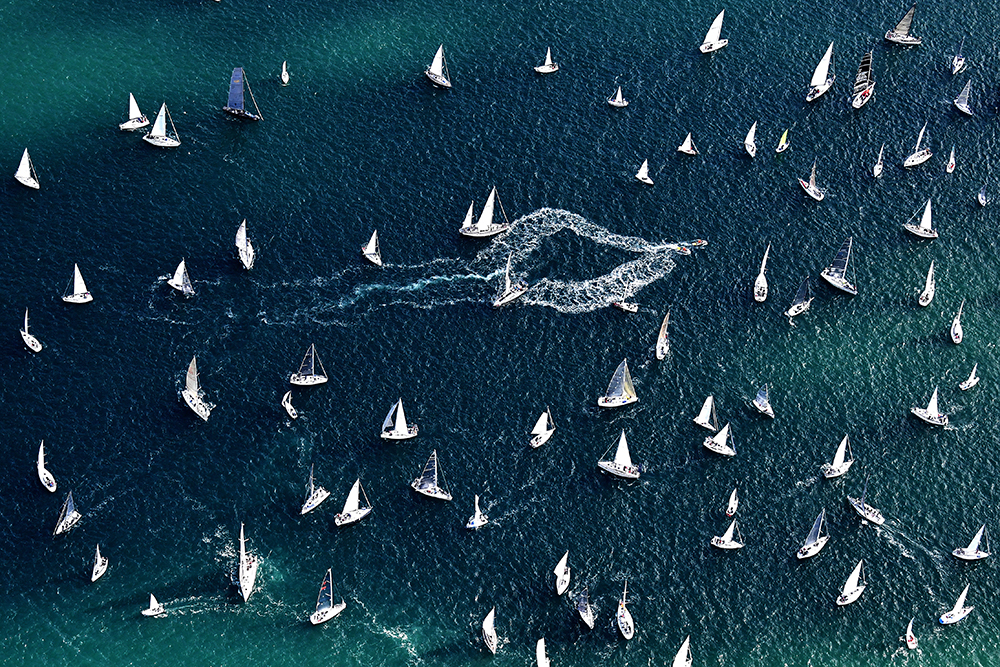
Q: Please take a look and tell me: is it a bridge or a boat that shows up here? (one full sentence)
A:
It is a boat that can be seen here.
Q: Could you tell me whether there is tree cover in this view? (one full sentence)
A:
No, there is no tree cover in the image.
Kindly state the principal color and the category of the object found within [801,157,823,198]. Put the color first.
white boat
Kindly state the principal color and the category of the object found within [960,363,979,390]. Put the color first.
white boat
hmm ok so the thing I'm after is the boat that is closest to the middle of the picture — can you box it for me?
[493,254,534,309]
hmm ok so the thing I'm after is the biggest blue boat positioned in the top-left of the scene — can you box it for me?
[222,65,263,123]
